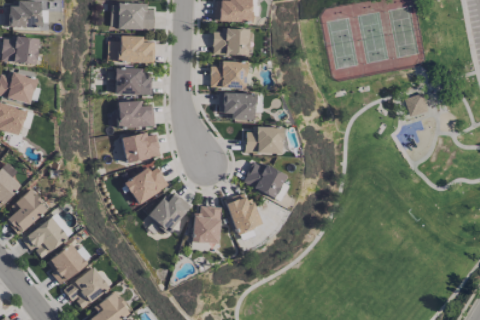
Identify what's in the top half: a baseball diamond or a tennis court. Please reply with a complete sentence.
It is a tennis court that can be seen in the top half.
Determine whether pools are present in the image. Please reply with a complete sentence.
Yes, this view includes a pool.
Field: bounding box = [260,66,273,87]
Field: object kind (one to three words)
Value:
swimming pool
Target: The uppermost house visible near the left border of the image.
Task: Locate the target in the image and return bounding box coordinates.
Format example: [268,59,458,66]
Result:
[8,0,49,28]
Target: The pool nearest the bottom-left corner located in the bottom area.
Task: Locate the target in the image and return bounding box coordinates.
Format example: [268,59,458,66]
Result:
[59,206,76,228]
